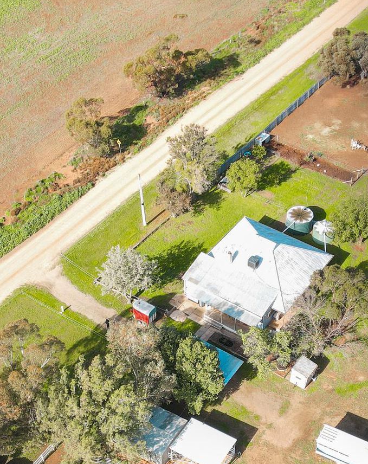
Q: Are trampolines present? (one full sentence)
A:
No, no trampoline is visible in the view.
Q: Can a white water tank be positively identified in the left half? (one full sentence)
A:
No, no white water tank is visible in the left half.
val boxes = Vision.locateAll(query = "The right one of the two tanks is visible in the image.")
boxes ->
[311,220,335,246]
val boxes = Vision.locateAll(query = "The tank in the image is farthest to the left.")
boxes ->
[286,206,313,235]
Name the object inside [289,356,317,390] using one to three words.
shed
